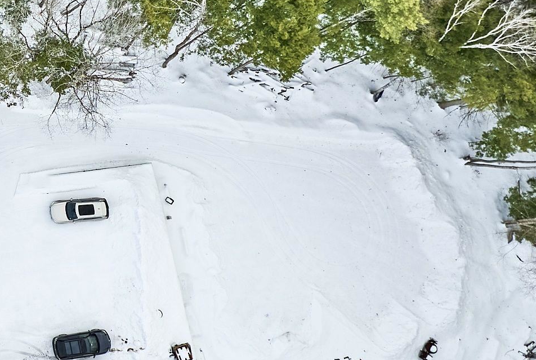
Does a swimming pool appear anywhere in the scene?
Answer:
No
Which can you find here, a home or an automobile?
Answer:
automobile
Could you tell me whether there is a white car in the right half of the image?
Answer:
No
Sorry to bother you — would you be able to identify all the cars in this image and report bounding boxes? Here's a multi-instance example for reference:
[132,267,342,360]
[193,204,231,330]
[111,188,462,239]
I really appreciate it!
[50,329,112,360]
[47,196,111,225]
